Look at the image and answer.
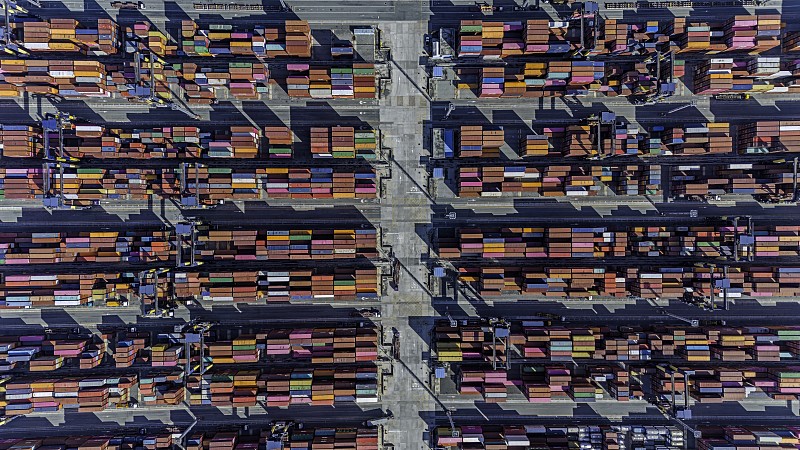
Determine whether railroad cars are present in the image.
No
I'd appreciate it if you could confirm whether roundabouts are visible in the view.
No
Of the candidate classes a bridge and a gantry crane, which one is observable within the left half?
gantry crane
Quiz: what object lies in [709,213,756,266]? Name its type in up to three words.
container crane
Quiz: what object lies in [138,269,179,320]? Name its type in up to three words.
container crane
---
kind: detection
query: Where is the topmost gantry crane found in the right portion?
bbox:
[564,0,599,61]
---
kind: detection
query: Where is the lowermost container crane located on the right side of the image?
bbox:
[649,364,691,422]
